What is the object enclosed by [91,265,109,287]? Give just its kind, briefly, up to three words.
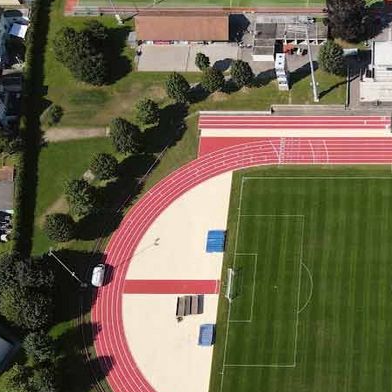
vehicle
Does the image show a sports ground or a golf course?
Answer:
sports ground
